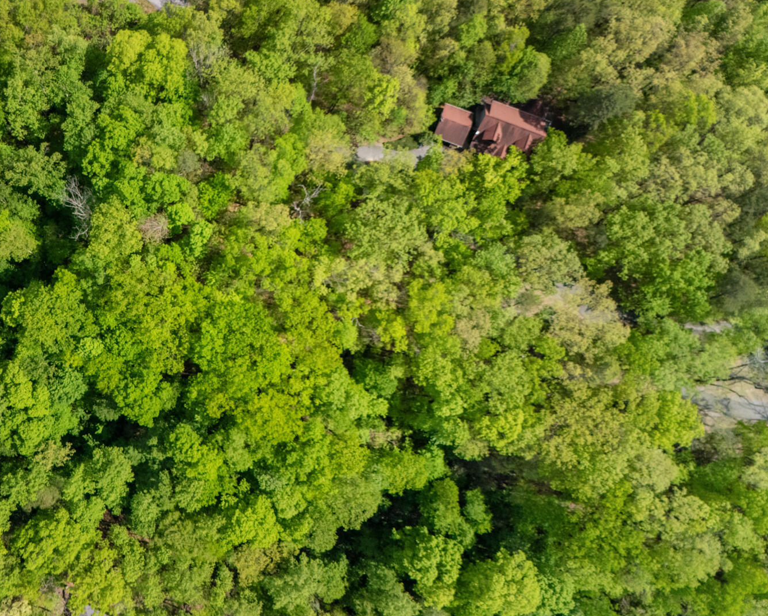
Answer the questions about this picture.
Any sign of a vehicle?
No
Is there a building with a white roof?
No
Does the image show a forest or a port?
forest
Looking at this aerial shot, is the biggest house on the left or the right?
right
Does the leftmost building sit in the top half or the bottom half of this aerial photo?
top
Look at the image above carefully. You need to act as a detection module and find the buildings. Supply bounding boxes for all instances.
[466,91,552,167]
[435,104,474,145]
